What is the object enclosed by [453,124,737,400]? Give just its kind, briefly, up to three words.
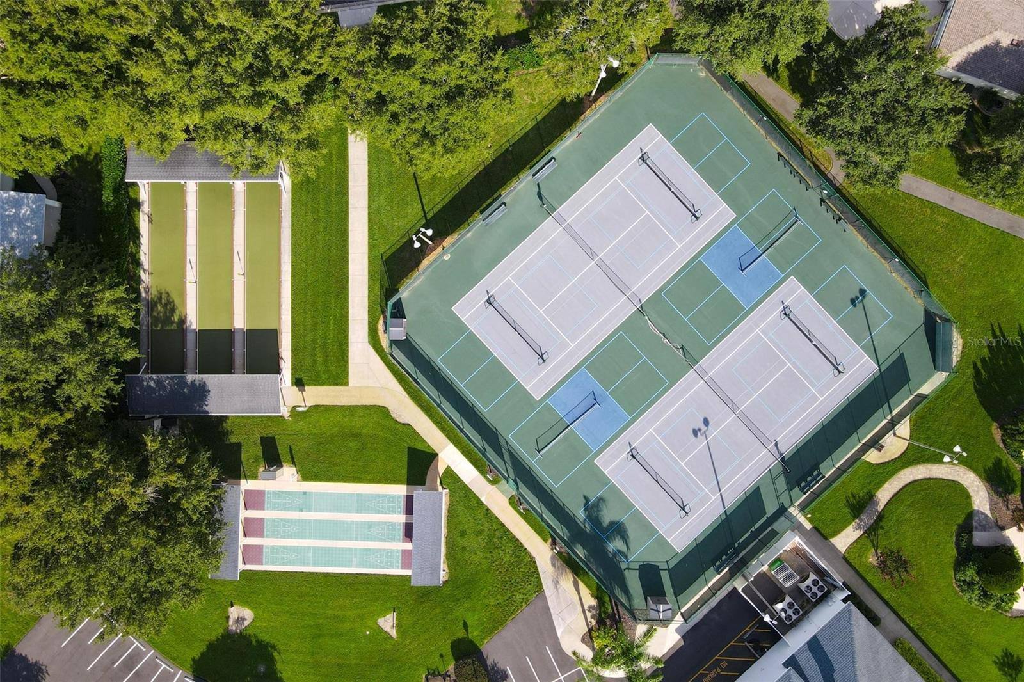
tennis court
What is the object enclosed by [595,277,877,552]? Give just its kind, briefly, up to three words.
tennis court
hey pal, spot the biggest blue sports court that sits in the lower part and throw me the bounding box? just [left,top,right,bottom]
[509,332,668,487]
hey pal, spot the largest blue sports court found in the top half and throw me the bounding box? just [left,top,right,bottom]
[662,189,822,345]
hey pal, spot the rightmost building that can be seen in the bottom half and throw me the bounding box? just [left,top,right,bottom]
[735,589,925,682]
